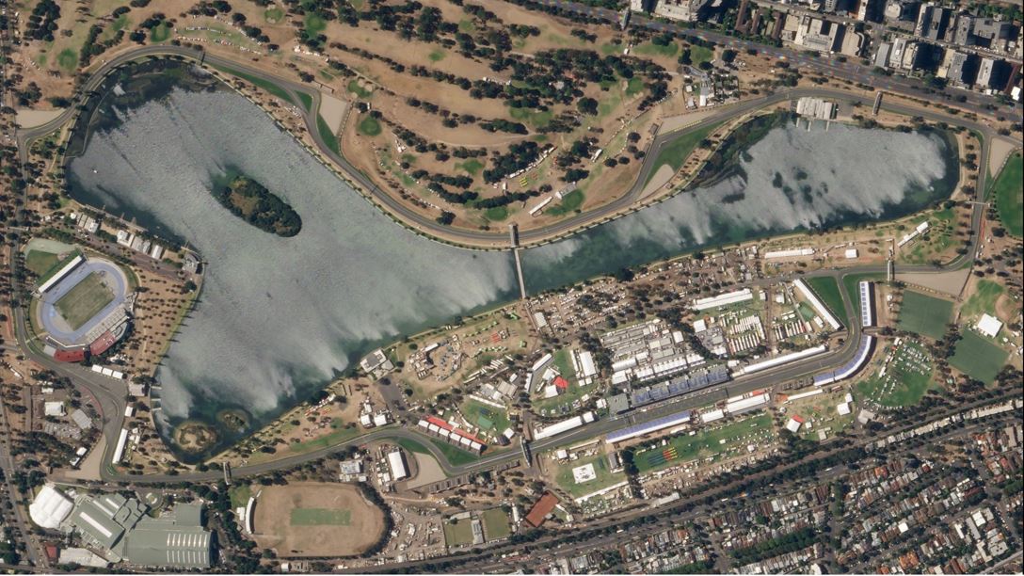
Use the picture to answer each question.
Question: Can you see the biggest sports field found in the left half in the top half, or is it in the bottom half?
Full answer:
Seen from above, the biggest sports field found in the left half lies in the bottom half of the view.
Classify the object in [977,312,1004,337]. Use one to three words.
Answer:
building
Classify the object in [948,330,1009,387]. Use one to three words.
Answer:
sports field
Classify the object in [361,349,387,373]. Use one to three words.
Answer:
building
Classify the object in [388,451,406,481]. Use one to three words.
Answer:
tent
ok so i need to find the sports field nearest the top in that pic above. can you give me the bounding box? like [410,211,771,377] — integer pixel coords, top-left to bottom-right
[995,152,1024,235]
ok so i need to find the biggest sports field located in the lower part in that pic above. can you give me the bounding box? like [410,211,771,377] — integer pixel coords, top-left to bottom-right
[250,482,384,558]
